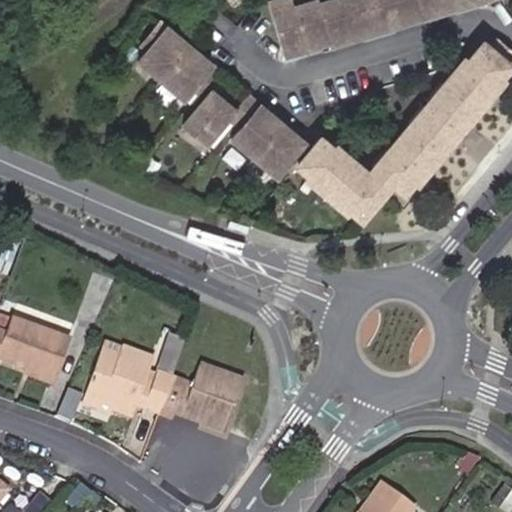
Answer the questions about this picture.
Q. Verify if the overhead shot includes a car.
Yes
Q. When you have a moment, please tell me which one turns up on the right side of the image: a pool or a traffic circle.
traffic circle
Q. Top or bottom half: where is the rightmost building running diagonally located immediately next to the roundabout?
top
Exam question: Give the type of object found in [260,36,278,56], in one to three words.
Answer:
car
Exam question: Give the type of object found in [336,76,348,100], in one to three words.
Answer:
vehicle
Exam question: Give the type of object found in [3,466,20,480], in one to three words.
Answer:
umbrella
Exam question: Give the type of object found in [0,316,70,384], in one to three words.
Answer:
house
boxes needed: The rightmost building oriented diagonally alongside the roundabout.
[296,42,512,228]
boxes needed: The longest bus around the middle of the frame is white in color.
[185,226,246,255]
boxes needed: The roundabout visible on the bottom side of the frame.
[322,264,469,411]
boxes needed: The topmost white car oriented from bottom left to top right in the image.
[252,18,270,38]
